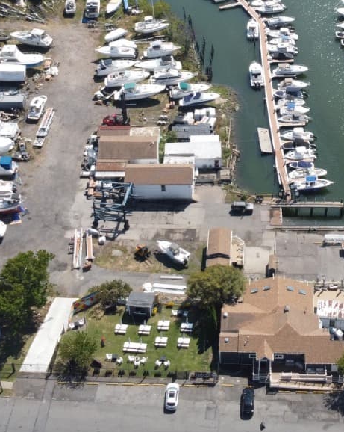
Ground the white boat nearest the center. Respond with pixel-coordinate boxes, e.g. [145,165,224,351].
[159,241,195,271]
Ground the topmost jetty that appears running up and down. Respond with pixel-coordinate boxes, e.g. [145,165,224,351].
[219,0,313,201]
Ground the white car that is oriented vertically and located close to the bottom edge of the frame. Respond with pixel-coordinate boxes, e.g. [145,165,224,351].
[163,383,180,412]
